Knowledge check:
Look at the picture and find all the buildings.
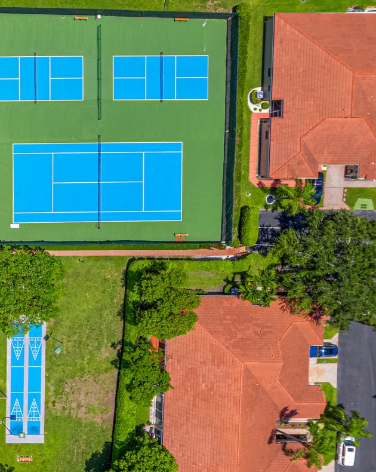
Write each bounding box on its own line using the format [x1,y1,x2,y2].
[148,296,328,472]
[252,11,376,181]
